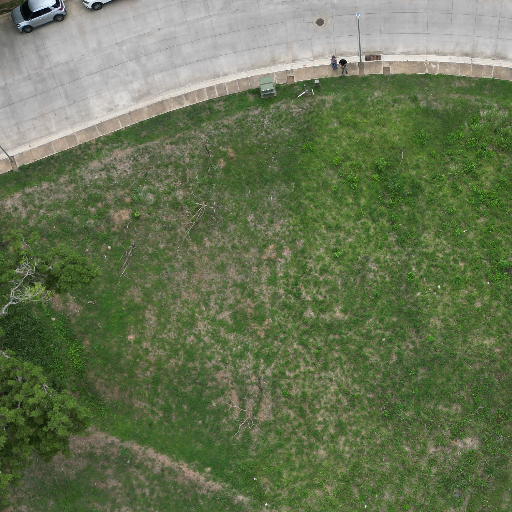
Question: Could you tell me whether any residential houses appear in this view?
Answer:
No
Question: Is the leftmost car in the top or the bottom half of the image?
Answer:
top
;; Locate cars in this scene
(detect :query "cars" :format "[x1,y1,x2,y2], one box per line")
[10,0,67,33]
[81,0,117,11]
